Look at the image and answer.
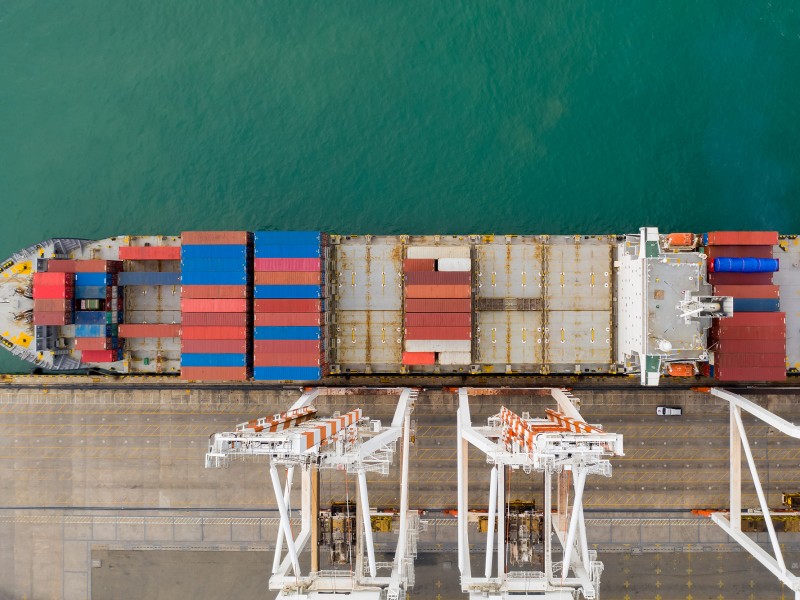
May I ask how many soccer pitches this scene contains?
0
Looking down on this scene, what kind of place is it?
port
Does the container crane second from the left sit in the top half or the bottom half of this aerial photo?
bottom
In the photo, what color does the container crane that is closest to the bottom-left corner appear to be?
white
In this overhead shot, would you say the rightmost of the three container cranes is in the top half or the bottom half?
bottom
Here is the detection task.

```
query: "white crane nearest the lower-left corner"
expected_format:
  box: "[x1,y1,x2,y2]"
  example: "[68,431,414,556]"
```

[202,381,429,600]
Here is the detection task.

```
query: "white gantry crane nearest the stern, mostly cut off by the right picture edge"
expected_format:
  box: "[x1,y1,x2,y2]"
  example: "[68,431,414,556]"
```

[695,383,800,600]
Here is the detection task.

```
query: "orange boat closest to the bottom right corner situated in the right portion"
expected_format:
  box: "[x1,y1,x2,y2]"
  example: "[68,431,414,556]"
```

[662,364,695,377]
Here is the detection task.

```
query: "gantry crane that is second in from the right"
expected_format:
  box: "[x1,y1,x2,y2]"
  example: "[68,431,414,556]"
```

[440,382,628,600]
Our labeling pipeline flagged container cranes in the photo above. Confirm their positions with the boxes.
[202,381,429,600]
[695,383,800,600]
[440,382,628,600]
